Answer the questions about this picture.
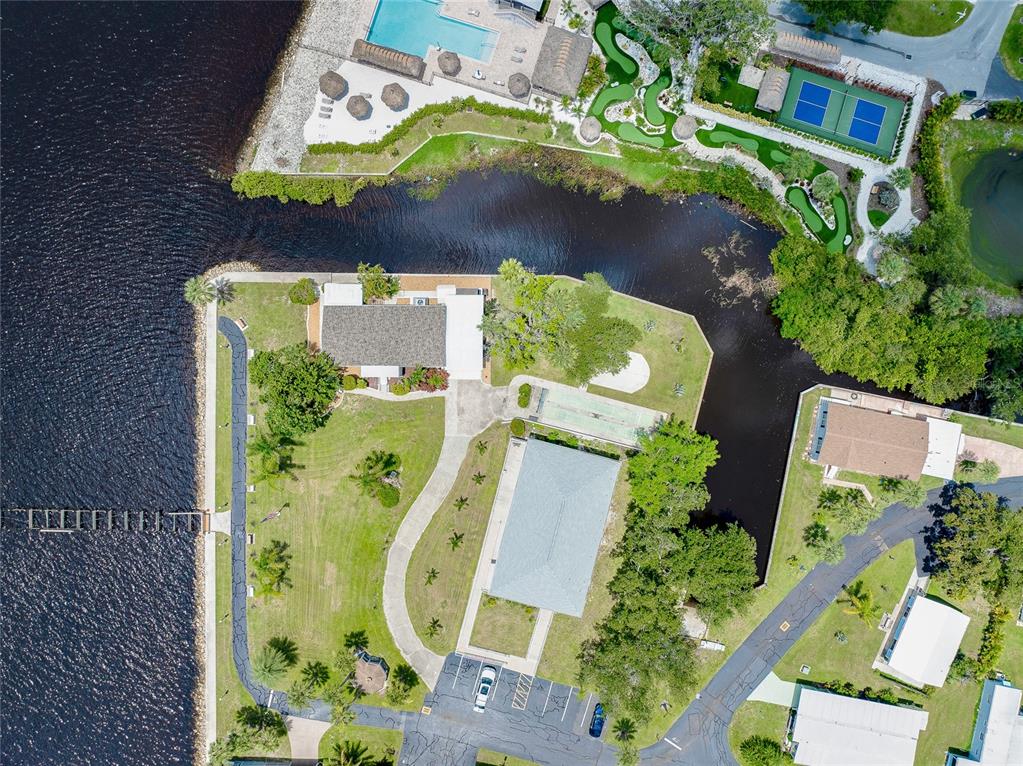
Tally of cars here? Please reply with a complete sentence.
In total, there are 2 cars in the scene.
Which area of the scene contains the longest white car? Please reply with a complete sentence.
The longest white car is in the bottom part of the image.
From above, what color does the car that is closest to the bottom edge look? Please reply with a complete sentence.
The car that is closest to the bottom edge is blue.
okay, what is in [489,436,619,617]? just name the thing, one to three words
building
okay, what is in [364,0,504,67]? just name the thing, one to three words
swimming pool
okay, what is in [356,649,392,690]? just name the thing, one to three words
gazebo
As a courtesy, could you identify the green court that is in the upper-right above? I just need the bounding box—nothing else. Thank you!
[776,66,904,158]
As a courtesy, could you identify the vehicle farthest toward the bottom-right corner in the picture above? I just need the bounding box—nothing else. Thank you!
[586,701,608,739]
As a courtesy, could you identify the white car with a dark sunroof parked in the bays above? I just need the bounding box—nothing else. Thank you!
[472,664,497,714]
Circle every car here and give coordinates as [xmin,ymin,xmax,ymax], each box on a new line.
[472,664,497,714]
[586,701,608,739]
